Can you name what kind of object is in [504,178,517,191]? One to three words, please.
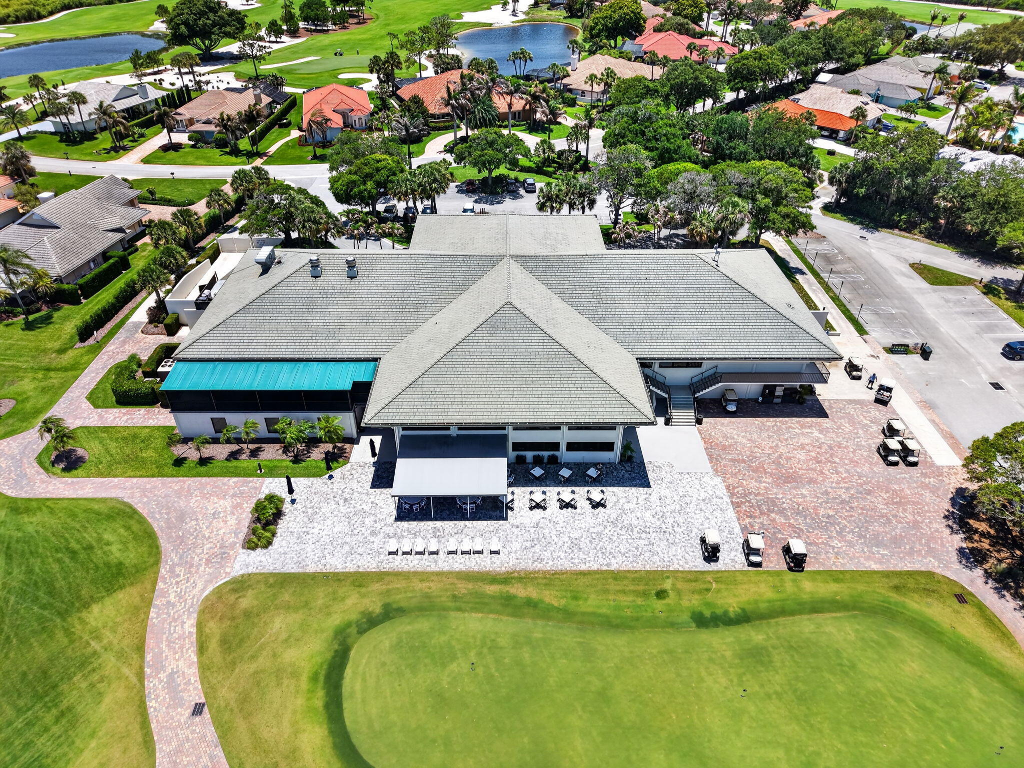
vehicle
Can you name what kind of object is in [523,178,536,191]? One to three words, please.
vehicle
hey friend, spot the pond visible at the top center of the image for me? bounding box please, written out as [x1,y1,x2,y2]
[455,21,580,80]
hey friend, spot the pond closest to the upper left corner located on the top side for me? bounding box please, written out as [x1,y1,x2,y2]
[0,32,168,78]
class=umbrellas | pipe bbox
[285,475,296,502]
[324,452,333,478]
[370,439,379,464]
